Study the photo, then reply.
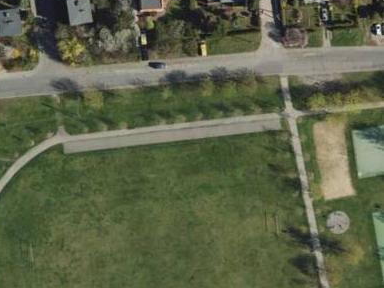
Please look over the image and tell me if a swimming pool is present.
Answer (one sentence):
No, the scene contains no swimming pool.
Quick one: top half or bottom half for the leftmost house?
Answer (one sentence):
The top half of the photo is where the leftmost house is.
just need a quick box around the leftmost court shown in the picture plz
[314,119,356,201]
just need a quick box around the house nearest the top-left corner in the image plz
[0,8,24,39]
